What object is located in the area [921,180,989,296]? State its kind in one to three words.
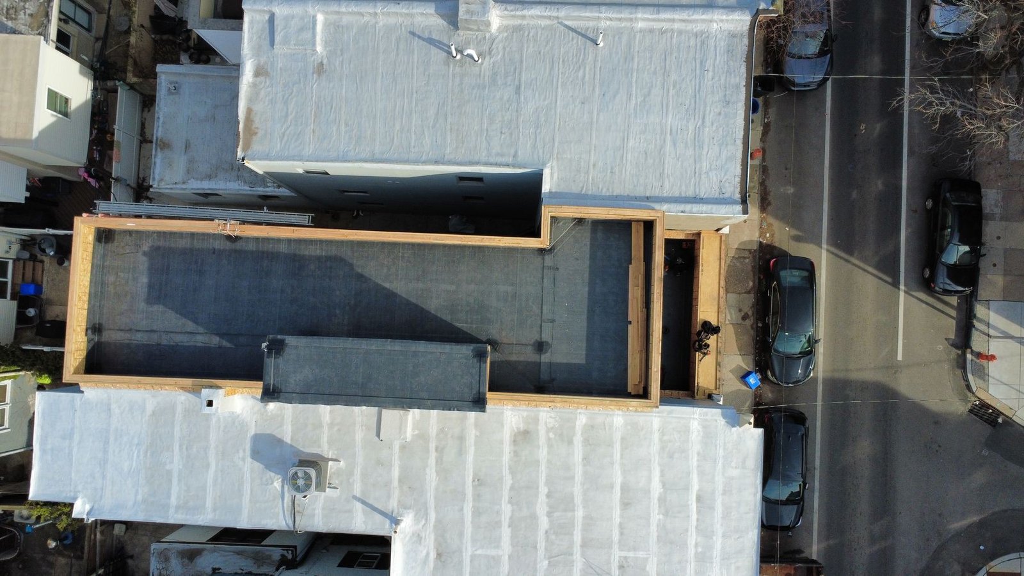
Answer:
car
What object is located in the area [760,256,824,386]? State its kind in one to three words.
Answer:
car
